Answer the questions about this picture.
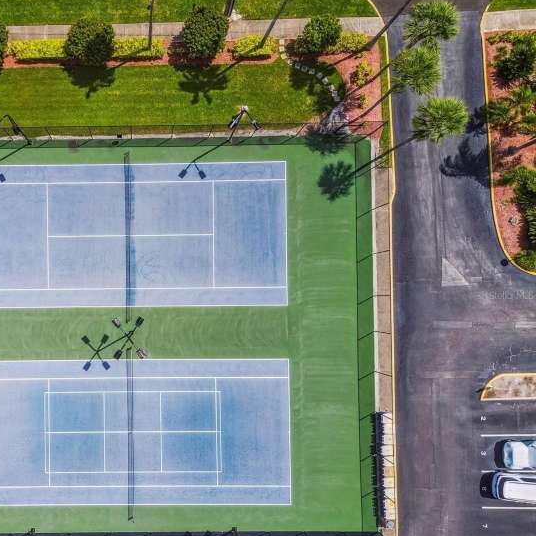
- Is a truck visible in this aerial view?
No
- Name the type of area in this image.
sports ground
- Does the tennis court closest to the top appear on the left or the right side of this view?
left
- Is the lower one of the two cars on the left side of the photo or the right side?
right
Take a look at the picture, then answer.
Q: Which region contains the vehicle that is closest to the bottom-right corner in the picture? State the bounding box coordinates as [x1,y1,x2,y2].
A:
[488,470,536,502]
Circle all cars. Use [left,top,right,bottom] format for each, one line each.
[488,470,536,502]
[500,439,536,471]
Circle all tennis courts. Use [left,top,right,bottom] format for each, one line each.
[0,359,291,506]
[0,160,288,308]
